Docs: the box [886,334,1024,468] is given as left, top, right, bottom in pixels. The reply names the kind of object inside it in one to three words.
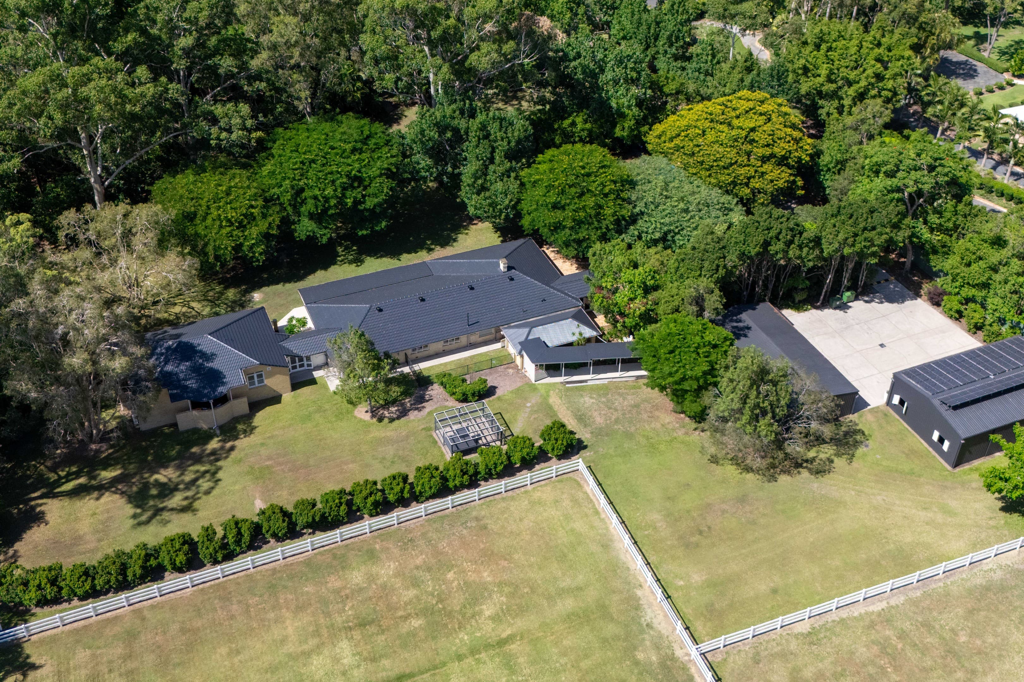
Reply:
shed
